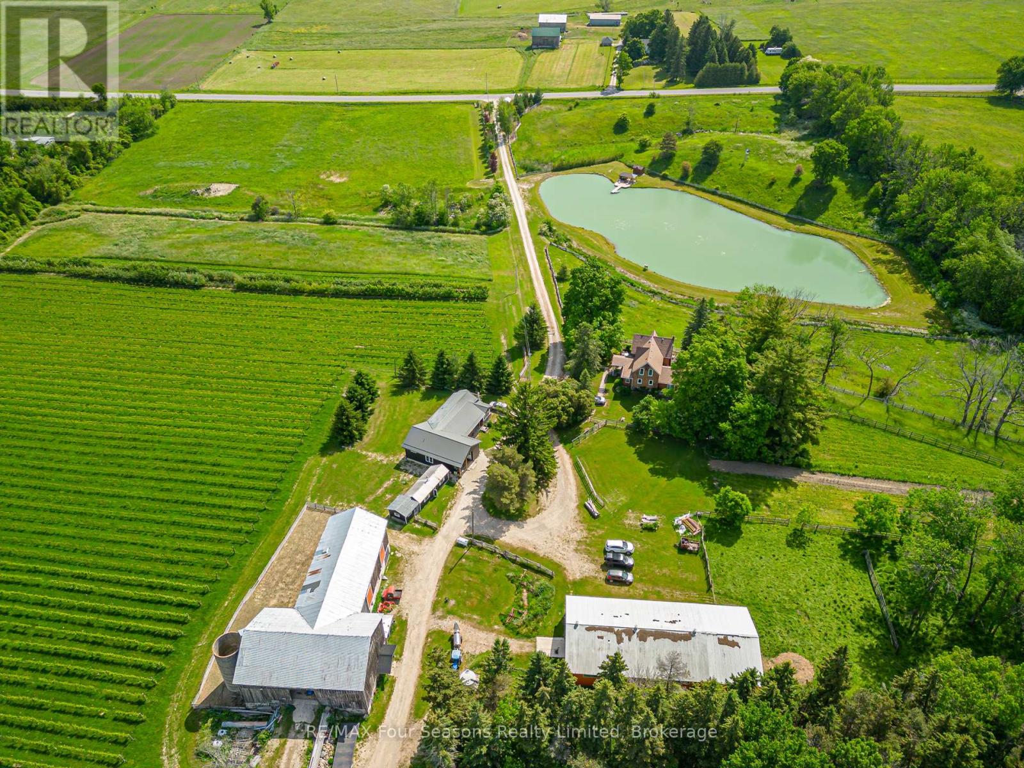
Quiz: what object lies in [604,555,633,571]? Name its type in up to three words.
car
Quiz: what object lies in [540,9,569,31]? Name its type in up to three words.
barn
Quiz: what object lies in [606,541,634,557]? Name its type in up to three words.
car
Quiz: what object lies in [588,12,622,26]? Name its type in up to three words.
shed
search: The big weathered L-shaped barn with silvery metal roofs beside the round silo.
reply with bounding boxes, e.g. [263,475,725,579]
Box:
[231,502,398,714]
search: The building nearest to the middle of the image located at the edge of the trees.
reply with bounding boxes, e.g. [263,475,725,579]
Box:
[402,385,496,479]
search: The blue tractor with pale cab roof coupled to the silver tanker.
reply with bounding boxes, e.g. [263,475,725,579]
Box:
[447,647,464,675]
